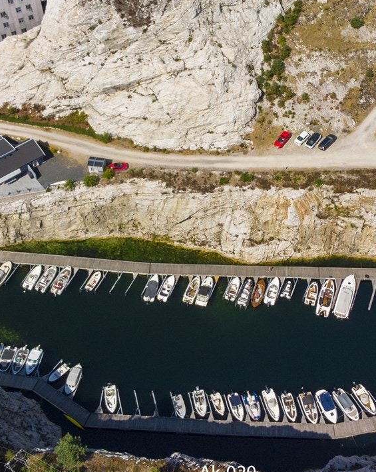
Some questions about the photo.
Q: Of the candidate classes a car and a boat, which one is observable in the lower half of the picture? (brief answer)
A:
boat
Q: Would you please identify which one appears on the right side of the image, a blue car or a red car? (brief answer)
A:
red car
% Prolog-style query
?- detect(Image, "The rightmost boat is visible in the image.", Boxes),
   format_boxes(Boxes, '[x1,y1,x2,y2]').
[349,381,375,416]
